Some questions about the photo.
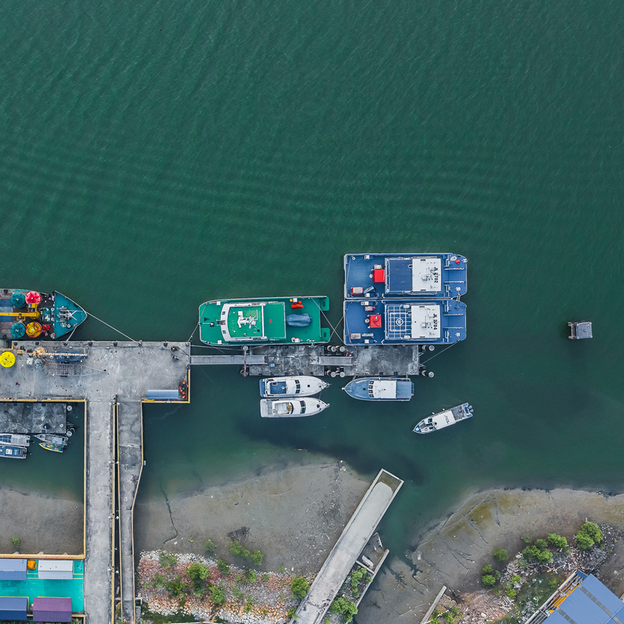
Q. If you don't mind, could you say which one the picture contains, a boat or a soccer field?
boat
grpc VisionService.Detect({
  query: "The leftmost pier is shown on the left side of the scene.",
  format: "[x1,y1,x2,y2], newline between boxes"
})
[0,403,75,436]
